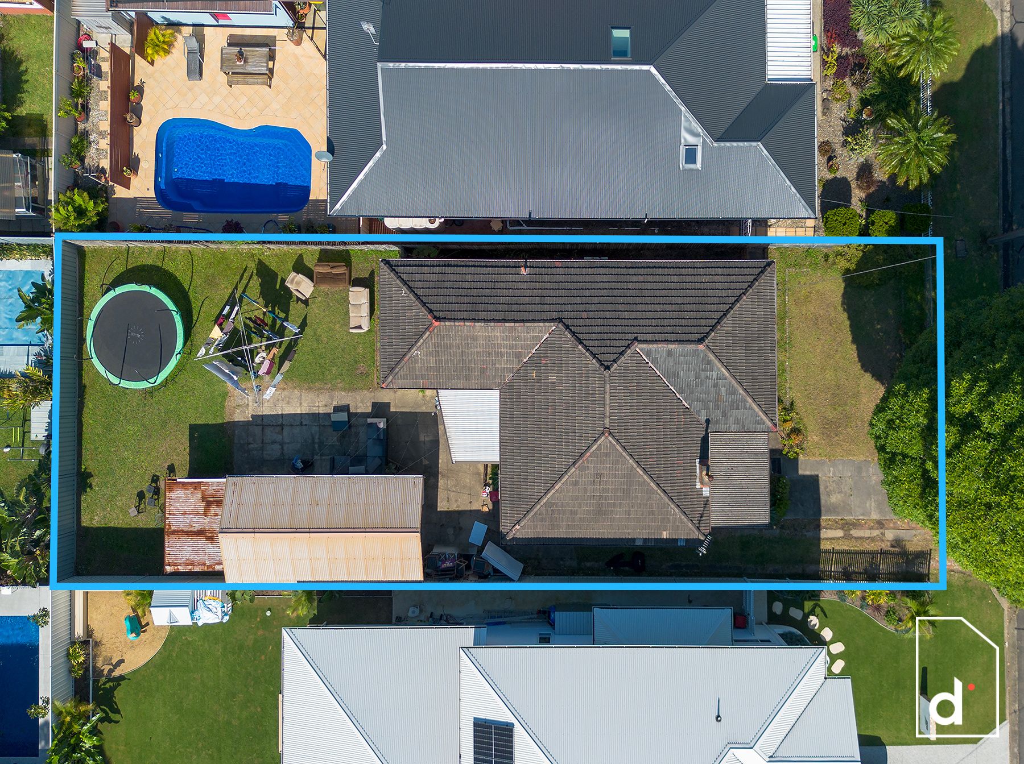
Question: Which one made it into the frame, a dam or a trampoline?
trampoline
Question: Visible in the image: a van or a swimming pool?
swimming pool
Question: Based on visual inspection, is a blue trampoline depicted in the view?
No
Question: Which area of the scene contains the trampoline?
left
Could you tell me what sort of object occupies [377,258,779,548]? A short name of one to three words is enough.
house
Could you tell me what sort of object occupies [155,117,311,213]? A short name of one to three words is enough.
swimming pool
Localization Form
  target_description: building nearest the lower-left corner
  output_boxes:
[151,586,206,625]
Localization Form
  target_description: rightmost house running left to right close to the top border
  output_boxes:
[326,0,819,222]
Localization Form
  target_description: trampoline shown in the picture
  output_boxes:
[74,281,189,395]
